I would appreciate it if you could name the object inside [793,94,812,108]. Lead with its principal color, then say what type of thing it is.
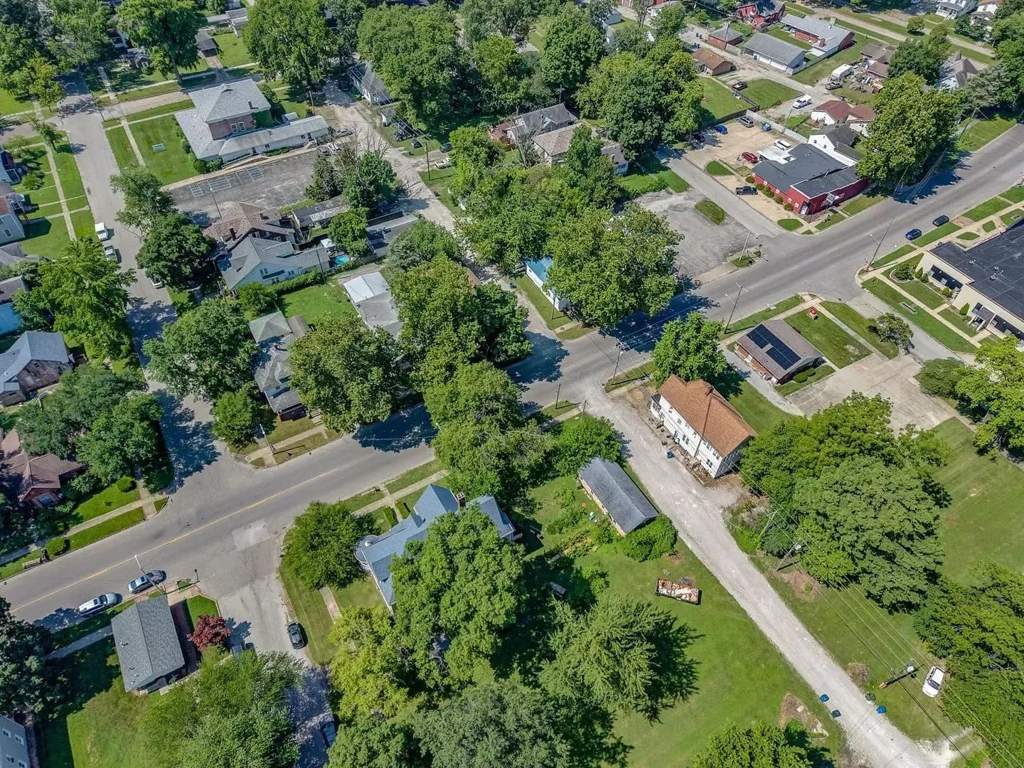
white vehicle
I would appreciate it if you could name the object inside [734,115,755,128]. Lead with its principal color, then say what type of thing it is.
gray vehicle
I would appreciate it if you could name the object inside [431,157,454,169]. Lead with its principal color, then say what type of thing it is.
white vehicle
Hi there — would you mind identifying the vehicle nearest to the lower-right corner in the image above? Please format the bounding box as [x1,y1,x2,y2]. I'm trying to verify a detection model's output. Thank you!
[917,660,949,699]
